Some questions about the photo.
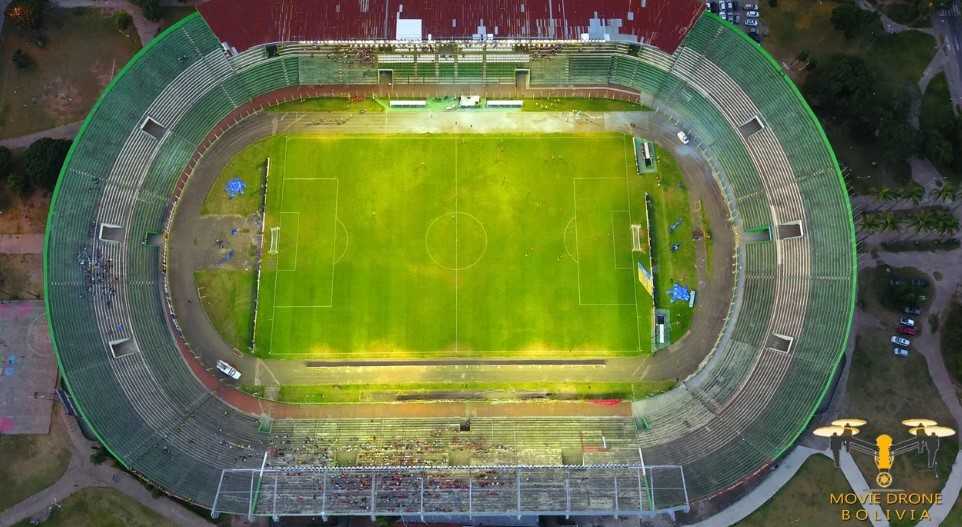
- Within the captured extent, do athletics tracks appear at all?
Yes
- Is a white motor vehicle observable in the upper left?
No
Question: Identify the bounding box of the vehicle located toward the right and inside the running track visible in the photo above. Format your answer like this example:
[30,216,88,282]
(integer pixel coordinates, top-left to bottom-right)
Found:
[675,127,692,145]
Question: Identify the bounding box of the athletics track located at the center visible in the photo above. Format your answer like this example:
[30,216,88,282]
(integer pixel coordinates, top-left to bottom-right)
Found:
[162,88,743,420]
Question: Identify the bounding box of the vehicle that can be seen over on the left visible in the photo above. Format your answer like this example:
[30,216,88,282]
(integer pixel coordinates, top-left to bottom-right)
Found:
[213,357,242,380]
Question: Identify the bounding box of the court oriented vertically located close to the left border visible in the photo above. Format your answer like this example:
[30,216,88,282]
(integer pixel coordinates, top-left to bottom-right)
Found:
[0,300,59,435]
